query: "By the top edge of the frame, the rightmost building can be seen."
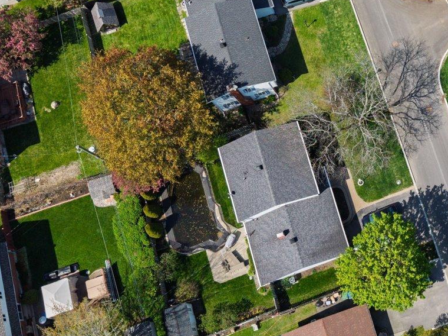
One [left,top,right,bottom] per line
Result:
[184,0,280,109]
